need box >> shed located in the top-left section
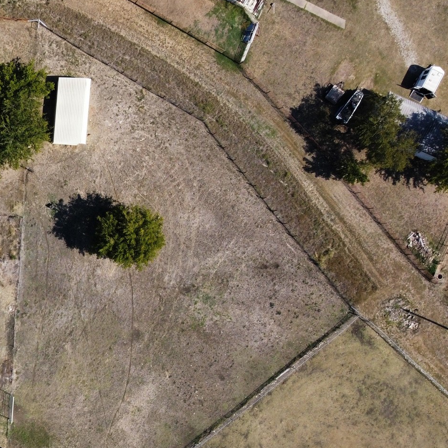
[51,77,91,148]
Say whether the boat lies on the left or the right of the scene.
right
